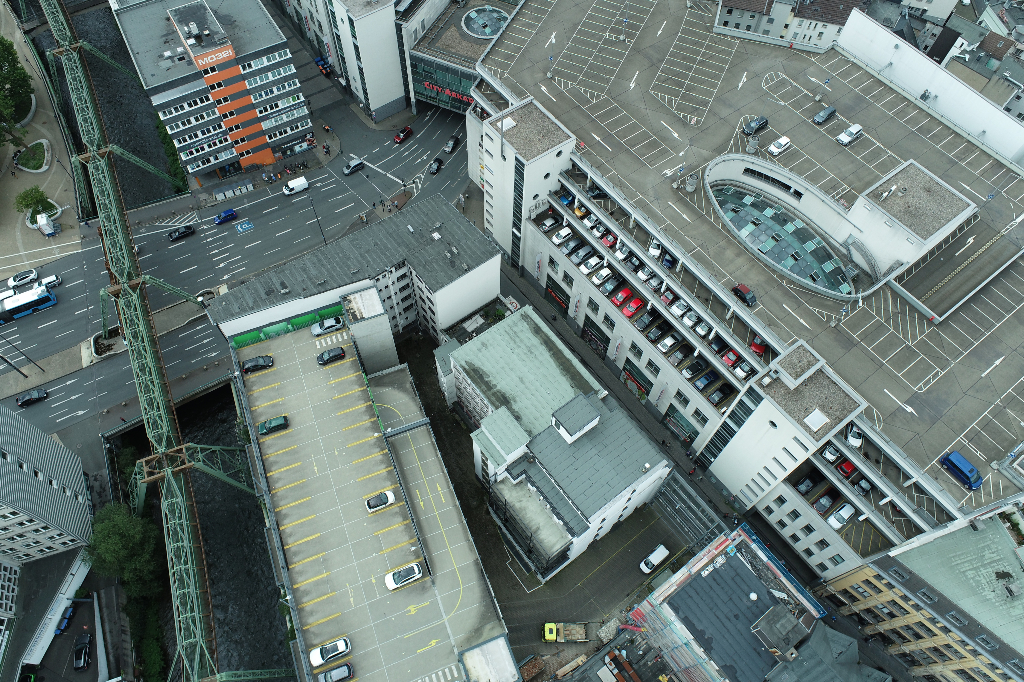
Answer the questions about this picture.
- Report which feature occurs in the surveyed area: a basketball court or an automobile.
automobile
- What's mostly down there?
buildings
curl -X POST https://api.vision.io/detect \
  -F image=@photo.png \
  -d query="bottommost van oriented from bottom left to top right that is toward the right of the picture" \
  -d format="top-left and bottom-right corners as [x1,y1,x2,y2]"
[638,542,674,575]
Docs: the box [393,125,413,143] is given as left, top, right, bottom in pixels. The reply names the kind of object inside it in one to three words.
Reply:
car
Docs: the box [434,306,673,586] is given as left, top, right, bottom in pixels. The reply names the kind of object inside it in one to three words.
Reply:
building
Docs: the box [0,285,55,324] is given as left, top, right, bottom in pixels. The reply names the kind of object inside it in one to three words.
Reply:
bus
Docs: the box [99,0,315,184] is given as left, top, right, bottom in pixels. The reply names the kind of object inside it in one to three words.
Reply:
building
